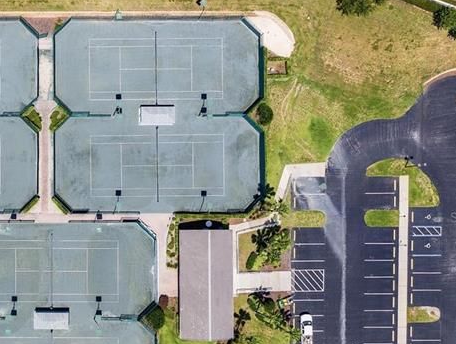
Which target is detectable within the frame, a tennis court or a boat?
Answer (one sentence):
Looking from above, you can make out a tennis court.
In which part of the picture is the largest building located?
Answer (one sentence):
Look in the bottom portion of the view to spot the largest building.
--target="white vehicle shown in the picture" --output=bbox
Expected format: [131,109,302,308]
[301,315,316,344]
